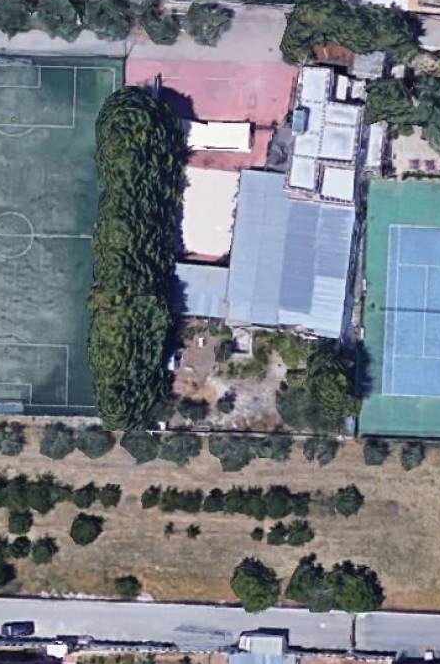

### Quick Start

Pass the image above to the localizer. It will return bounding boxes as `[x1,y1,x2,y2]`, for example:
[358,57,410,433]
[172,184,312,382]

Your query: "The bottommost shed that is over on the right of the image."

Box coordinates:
[245,632,287,655]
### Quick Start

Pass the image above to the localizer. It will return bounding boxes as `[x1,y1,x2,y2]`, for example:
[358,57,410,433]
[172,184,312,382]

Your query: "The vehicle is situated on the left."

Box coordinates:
[1,621,35,636]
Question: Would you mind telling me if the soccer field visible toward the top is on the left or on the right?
left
